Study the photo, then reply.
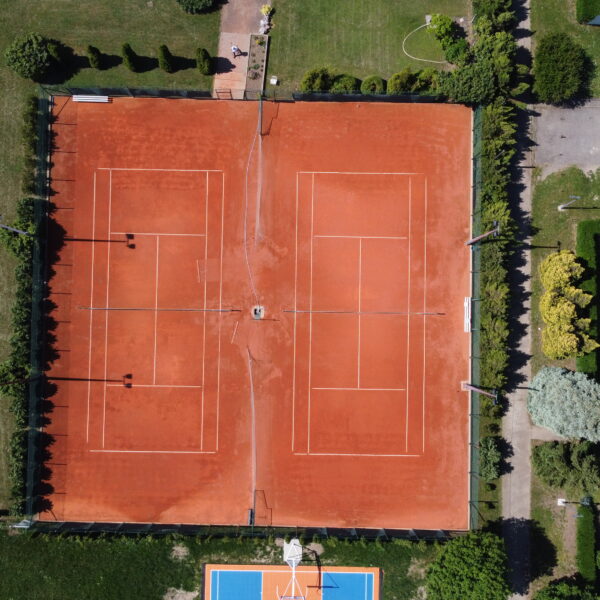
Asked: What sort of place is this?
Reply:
sports ground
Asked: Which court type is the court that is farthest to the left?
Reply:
tennis court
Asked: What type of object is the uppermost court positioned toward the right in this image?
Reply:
tennis court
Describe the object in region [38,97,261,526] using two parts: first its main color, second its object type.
red tennis court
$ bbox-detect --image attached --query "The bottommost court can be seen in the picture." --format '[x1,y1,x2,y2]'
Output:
[202,565,383,600]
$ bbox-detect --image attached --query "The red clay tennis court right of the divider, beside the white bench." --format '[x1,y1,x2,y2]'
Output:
[254,100,472,530]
